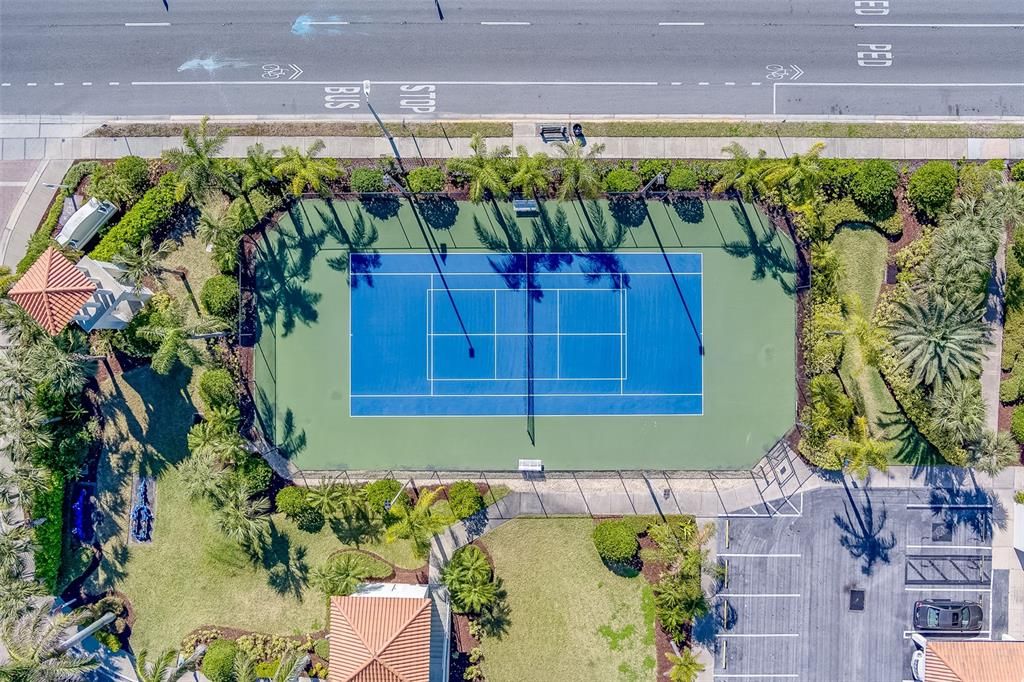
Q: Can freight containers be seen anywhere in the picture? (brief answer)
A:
No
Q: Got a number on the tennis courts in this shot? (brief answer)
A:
one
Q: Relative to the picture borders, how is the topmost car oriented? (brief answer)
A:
from left to right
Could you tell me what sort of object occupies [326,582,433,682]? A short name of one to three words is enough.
house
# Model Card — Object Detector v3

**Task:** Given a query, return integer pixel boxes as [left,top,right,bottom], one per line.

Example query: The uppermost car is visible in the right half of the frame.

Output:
[912,600,983,634]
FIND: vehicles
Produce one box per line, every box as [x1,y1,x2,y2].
[911,645,923,675]
[912,600,983,634]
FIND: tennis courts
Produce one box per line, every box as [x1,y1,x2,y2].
[255,200,796,470]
